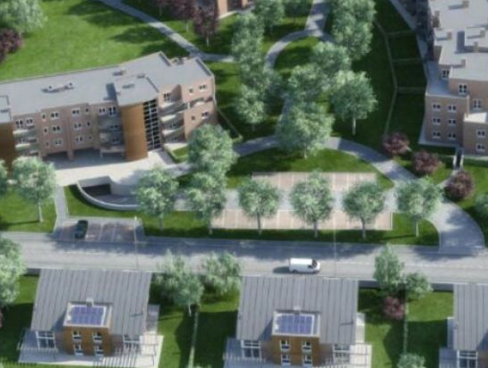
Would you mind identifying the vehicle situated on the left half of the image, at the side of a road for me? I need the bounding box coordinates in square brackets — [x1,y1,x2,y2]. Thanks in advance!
[76,219,88,237]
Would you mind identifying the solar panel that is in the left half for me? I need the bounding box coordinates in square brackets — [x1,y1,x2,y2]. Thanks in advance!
[67,297,106,323]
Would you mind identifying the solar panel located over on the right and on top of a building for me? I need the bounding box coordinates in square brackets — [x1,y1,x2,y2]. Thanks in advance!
[277,306,314,333]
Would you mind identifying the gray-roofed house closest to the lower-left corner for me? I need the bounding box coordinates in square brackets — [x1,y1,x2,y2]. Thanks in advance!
[30,267,150,353]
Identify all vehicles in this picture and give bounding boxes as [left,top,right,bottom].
[290,256,321,276]
[76,219,88,237]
